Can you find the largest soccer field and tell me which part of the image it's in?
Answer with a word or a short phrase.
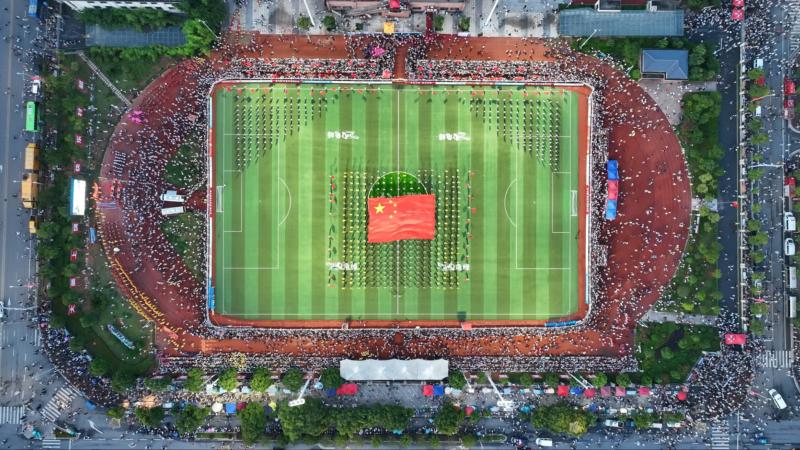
center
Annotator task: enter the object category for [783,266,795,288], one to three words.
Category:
vehicle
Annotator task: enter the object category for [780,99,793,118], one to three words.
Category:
vehicle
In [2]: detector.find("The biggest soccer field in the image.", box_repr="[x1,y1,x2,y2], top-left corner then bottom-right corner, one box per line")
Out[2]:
[210,81,591,327]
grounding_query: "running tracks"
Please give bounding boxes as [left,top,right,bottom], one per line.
[94,38,693,355]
